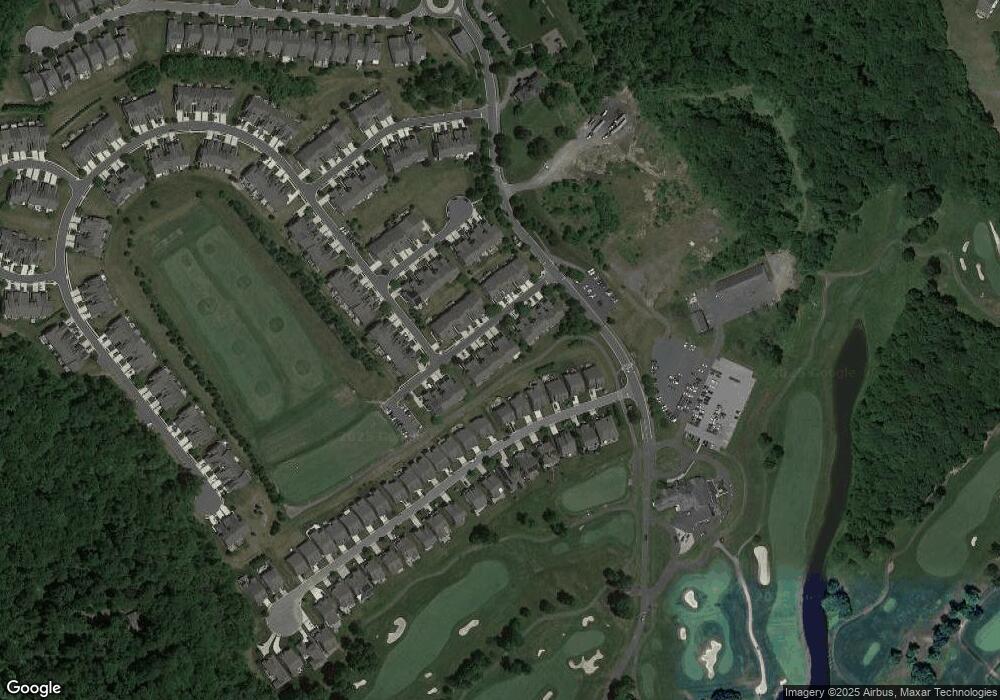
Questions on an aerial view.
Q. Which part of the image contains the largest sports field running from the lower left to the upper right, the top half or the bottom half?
bottom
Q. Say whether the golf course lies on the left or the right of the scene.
right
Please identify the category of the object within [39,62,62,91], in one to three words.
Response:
house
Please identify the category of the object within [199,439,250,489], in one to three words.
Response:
house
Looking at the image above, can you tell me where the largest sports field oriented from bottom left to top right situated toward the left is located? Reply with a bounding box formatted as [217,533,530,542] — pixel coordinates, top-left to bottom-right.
[271,409,402,505]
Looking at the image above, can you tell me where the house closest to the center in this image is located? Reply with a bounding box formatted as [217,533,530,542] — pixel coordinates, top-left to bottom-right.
[462,332,520,386]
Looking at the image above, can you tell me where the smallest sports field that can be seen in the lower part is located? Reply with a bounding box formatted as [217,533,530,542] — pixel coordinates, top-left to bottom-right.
[258,397,376,465]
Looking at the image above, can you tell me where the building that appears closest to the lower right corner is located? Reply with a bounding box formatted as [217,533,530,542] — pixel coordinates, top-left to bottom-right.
[653,476,713,527]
